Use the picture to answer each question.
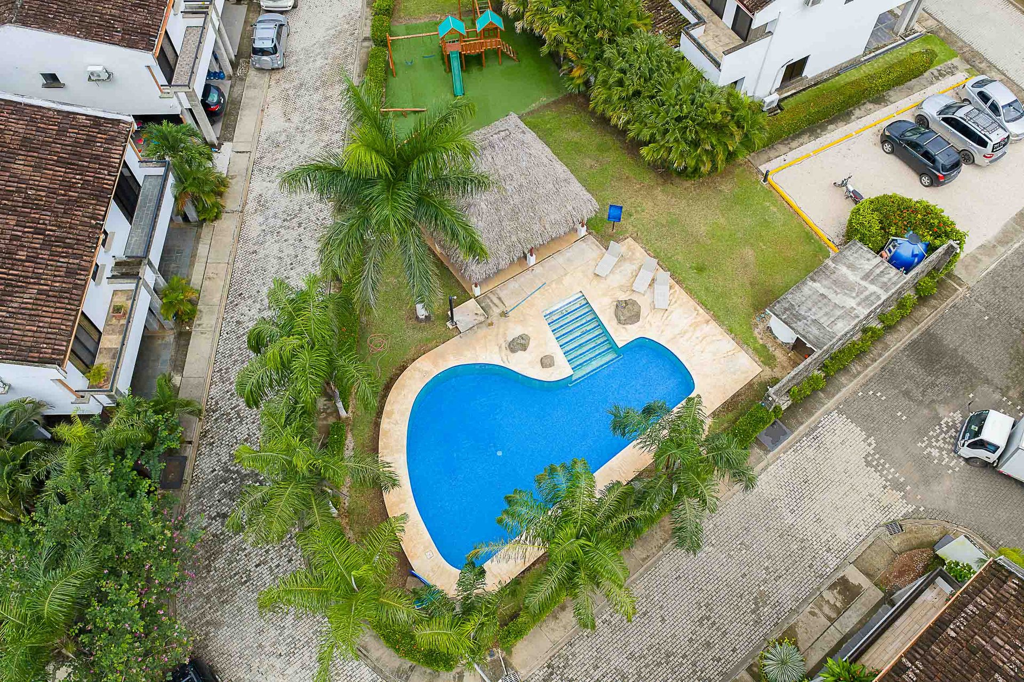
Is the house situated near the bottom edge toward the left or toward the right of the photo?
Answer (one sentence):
The house situated near the bottom edge appears in the right half of the scene.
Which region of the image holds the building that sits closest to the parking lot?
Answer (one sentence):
The building that sits closest to the parking lot sits in the right section of the image.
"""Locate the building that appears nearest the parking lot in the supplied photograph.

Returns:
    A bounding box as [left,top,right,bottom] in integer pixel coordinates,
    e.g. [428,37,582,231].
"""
[767,237,905,372]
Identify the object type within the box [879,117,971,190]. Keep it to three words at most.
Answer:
car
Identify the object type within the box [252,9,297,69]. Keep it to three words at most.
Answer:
car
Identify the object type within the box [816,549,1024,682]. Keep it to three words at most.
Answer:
house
